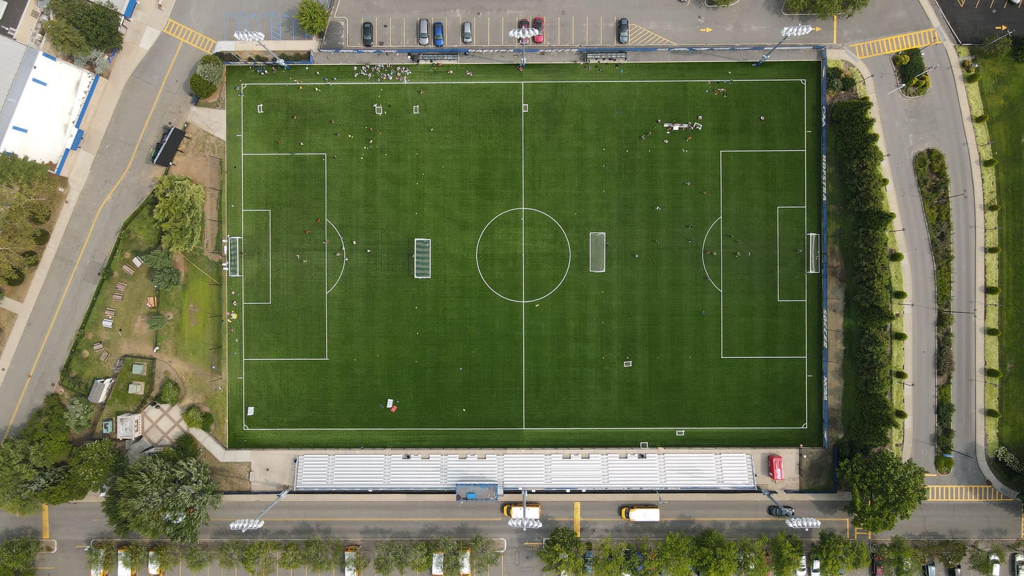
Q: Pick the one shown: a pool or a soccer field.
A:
soccer field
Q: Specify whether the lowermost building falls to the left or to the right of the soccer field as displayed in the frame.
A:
on the left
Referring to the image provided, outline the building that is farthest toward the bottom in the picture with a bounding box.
[109,414,142,443]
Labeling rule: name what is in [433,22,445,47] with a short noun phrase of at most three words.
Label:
vehicle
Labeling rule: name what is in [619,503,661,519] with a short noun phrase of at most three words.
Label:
vehicle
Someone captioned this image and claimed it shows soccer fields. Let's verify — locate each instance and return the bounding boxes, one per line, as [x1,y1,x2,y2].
[225,60,824,450]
